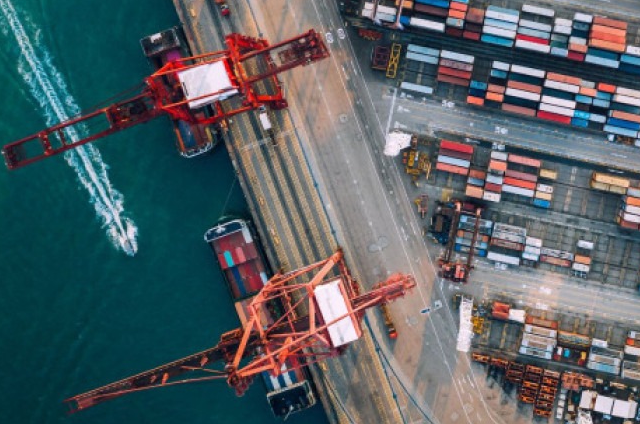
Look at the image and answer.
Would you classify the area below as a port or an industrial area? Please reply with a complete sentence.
This image shows a port.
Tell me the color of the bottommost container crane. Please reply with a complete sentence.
From above, the bottommost container crane appears red.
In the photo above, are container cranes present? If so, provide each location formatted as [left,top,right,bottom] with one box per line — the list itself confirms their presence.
[53,242,414,417]
[0,28,322,175]
[374,0,405,32]
[437,197,481,276]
